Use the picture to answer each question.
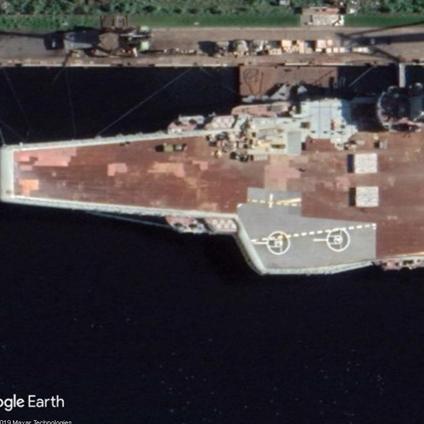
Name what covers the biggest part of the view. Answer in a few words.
water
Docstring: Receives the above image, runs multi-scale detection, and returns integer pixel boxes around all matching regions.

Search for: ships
[239,67,339,102]
[0,81,424,276]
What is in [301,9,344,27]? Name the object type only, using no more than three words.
shed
